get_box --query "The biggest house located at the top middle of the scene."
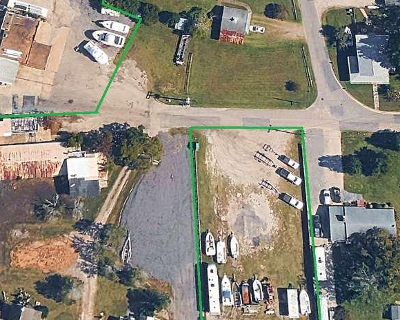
[218,7,252,44]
